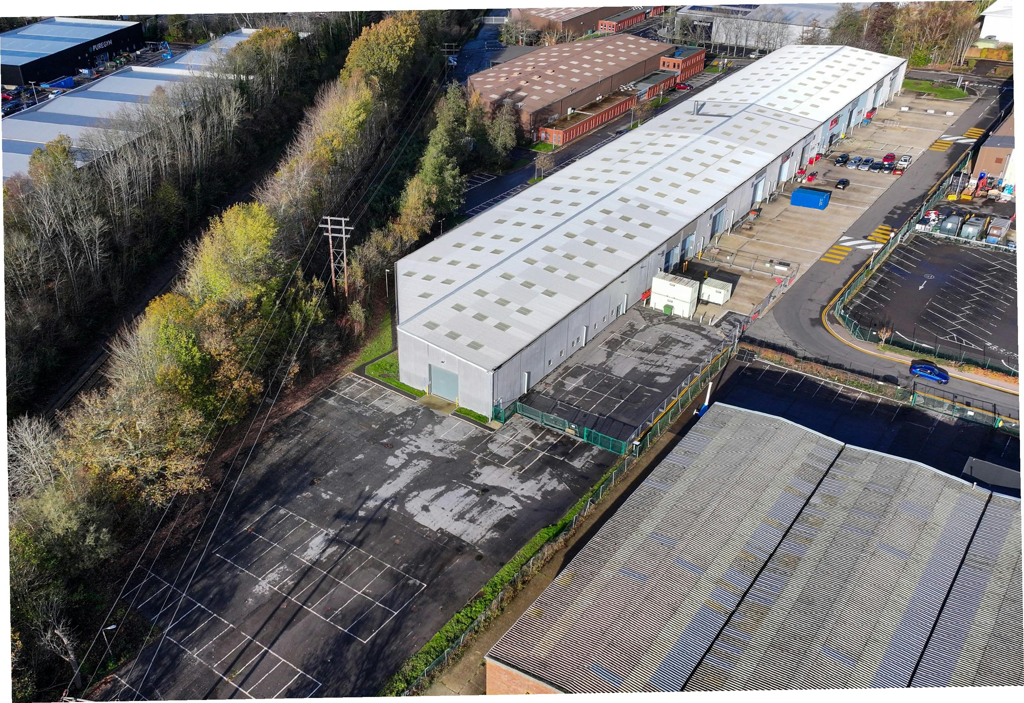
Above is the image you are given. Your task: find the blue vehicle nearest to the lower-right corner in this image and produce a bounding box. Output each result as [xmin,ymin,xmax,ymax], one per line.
[911,365,949,384]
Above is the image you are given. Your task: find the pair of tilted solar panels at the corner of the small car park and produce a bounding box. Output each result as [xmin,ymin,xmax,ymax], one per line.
[734,341,765,364]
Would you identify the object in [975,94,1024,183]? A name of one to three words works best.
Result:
building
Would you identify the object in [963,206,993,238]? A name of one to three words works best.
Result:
shipping container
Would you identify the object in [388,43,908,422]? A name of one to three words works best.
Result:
warehouse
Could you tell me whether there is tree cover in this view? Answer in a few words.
Yes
